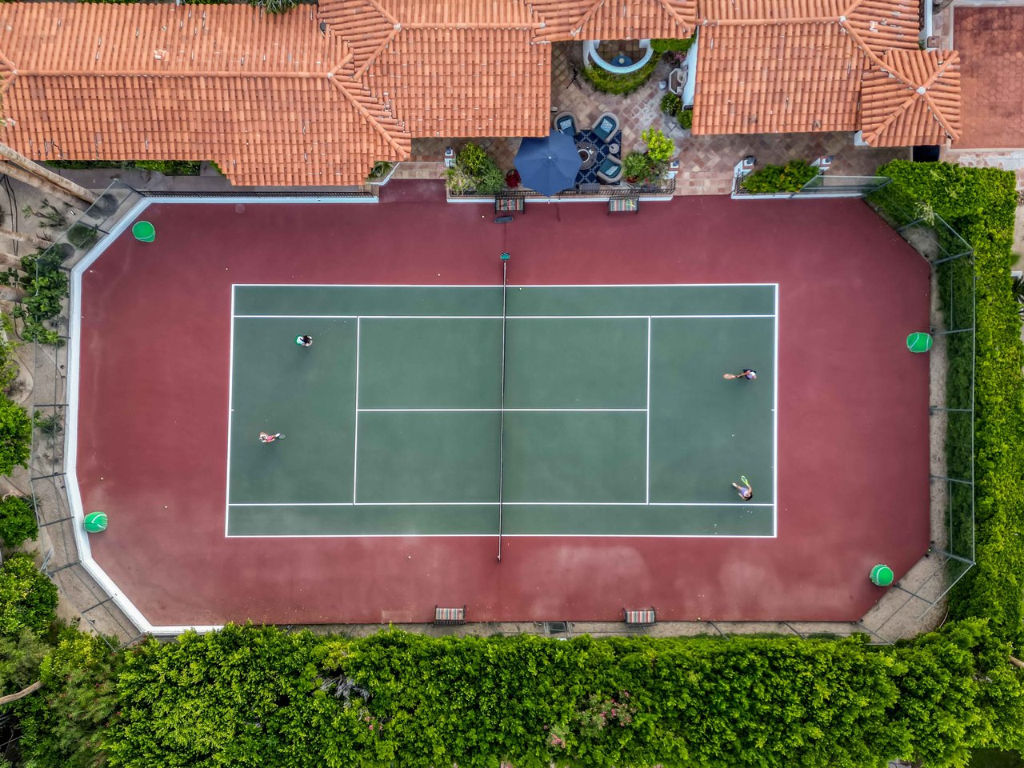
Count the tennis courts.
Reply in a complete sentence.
In total, 1 tennis court can be seen.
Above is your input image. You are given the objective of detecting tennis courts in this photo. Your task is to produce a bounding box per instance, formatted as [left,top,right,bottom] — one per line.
[76,180,932,626]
